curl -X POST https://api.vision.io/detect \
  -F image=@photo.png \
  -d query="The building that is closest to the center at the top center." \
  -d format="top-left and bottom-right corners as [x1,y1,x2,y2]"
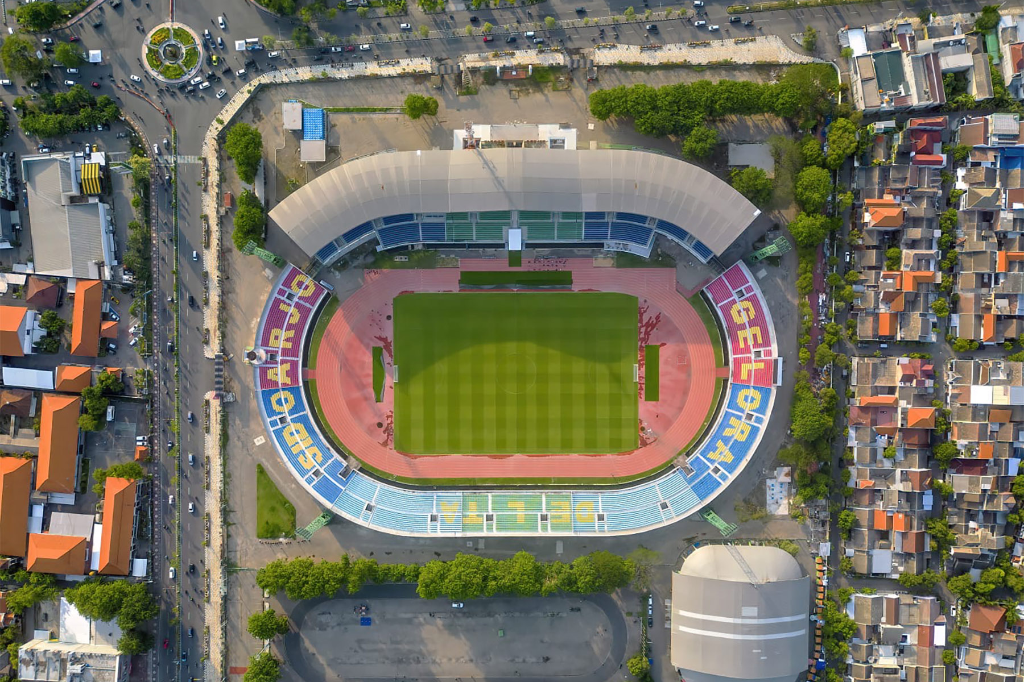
[453,124,576,150]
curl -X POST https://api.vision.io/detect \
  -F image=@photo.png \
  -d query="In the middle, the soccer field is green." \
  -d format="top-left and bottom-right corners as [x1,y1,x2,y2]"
[394,292,638,454]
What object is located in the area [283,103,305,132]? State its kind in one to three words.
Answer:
shed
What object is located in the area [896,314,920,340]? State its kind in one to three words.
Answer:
house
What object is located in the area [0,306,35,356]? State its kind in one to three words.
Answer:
building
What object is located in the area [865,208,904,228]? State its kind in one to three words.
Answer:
house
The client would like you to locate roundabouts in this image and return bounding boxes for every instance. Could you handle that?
[142,22,203,83]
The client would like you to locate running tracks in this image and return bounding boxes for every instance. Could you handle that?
[309,259,722,478]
